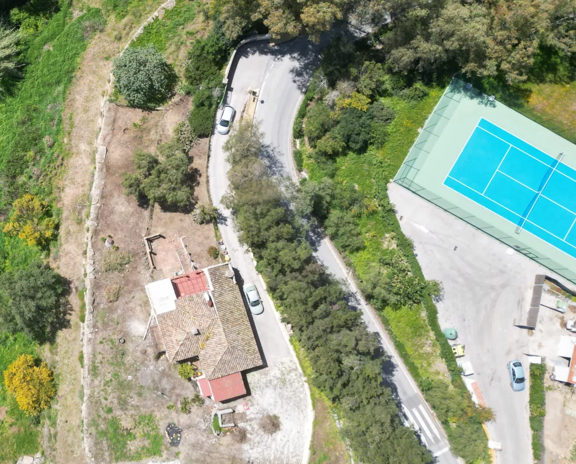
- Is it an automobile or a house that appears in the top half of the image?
automobile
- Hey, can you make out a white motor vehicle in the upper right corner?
No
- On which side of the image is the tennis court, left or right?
right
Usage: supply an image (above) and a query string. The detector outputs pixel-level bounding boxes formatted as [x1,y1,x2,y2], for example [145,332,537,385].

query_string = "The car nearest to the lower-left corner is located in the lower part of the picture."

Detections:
[242,282,264,316]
